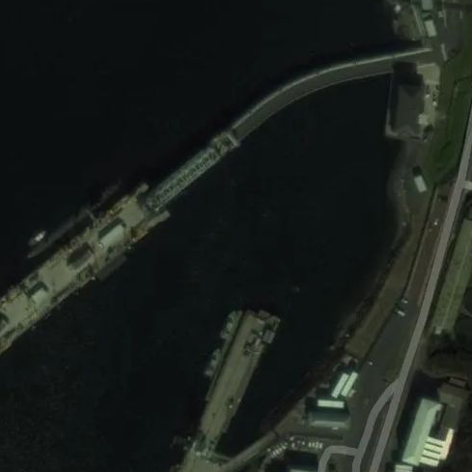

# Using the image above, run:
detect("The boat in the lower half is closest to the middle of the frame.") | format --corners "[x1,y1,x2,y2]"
[221,310,238,339]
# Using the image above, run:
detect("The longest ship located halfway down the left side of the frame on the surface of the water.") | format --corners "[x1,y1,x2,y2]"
[28,182,119,256]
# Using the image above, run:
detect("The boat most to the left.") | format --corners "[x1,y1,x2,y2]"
[27,229,47,245]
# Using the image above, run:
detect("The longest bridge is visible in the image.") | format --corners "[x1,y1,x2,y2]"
[230,48,431,139]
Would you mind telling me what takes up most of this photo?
water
